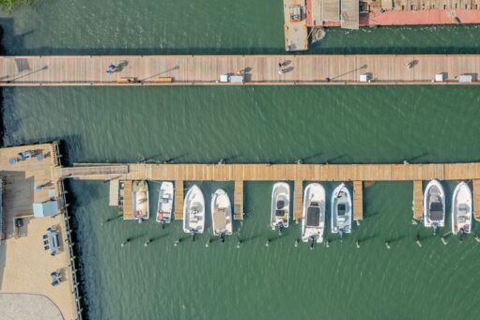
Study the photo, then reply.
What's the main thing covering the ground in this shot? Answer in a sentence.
The bulk of the photo consists of water.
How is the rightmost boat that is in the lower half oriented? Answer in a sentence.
What the image shows is the rightmost boat that is in the lower half lying vertically.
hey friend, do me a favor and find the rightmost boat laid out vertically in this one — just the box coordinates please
[451,181,472,241]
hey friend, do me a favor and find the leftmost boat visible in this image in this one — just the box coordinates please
[132,181,150,228]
